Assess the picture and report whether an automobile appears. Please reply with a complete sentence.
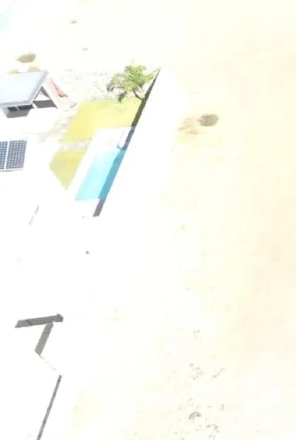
No, this view has no automobile in it.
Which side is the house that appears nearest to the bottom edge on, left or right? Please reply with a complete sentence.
It is on the left.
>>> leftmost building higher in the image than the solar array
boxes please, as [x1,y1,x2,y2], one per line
[0,54,52,117]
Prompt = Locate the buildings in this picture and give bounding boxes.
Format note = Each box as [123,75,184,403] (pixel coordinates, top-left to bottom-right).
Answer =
[0,131,85,332]
[0,54,52,117]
